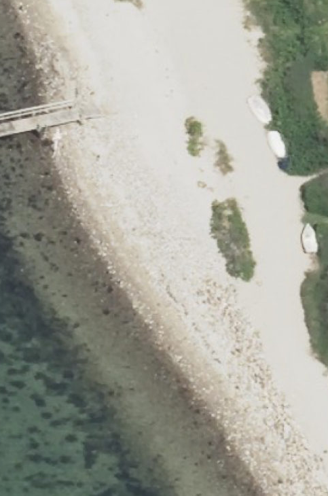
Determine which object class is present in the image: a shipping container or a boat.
boat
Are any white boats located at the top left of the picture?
No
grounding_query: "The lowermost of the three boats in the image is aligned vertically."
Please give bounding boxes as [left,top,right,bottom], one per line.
[301,220,317,254]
